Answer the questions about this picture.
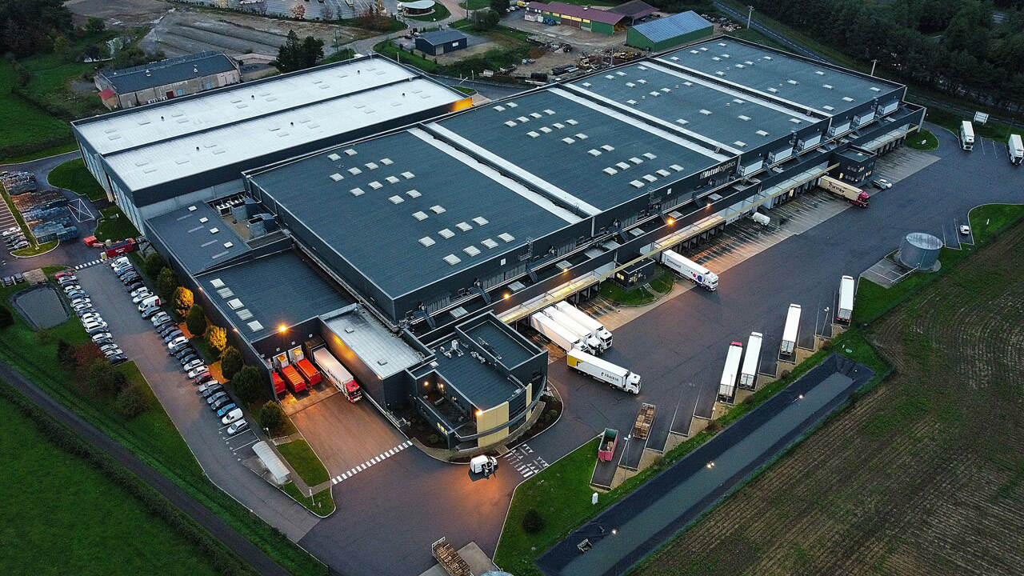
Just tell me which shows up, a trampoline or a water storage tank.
water storage tank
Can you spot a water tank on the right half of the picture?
Yes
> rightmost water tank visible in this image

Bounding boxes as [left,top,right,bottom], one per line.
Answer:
[895,231,946,273]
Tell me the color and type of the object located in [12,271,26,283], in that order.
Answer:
gray vehicle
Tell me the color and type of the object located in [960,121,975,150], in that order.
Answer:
white vehicle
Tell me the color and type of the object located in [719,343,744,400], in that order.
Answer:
white truck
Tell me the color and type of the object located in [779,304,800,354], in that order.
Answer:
white truck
